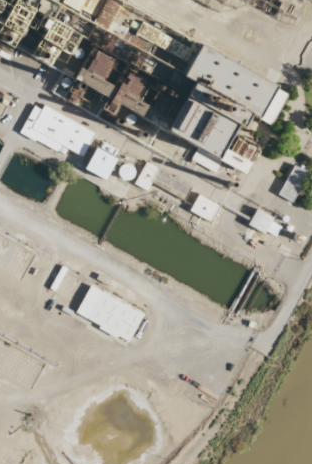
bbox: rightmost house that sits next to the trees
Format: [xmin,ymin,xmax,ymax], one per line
[278,164,308,203]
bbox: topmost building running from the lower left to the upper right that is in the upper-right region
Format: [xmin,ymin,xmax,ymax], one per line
[260,88,290,124]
